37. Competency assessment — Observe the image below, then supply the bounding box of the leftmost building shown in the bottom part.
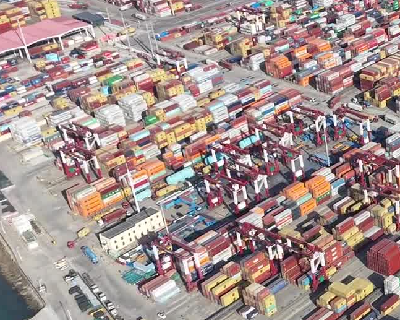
[6,214,46,237]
